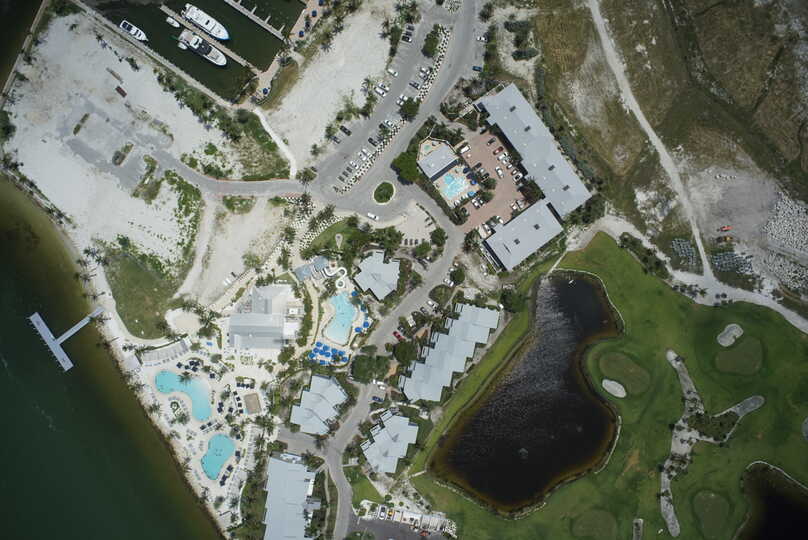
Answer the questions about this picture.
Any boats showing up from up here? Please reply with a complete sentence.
Yes, looking at the shot, I can spot a boat.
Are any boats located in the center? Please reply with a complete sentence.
No, there's no boat to be seen in the center.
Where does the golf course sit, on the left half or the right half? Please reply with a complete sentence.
The golf course sits on the right side.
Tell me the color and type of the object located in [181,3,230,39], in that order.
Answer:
white boat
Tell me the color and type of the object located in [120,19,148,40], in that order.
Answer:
white boat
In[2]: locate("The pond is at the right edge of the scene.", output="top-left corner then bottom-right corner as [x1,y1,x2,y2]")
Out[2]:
[733,465,808,540]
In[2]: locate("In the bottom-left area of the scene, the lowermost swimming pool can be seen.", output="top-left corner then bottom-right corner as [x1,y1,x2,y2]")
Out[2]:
[199,433,238,482]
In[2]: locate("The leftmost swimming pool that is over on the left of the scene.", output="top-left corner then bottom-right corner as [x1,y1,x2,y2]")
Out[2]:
[153,369,214,423]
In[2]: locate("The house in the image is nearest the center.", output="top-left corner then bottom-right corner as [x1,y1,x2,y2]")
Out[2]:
[354,252,400,301]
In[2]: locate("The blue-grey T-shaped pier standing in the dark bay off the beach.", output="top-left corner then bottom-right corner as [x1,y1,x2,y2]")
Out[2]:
[26,306,103,373]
